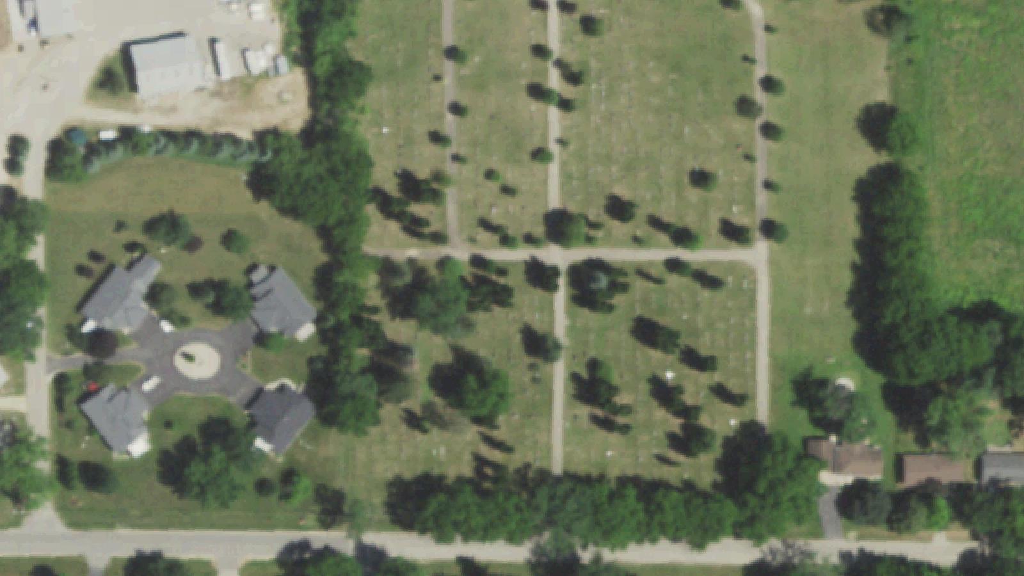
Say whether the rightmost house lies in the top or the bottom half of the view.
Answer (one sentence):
The rightmost house is in the bottom half of the image.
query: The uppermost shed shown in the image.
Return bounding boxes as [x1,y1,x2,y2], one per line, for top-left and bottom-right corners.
[36,0,87,35]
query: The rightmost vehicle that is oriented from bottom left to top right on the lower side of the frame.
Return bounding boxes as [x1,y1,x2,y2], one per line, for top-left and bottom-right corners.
[142,377,161,393]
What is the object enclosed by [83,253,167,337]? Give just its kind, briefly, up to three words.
house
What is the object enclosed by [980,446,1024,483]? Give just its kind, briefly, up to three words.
house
